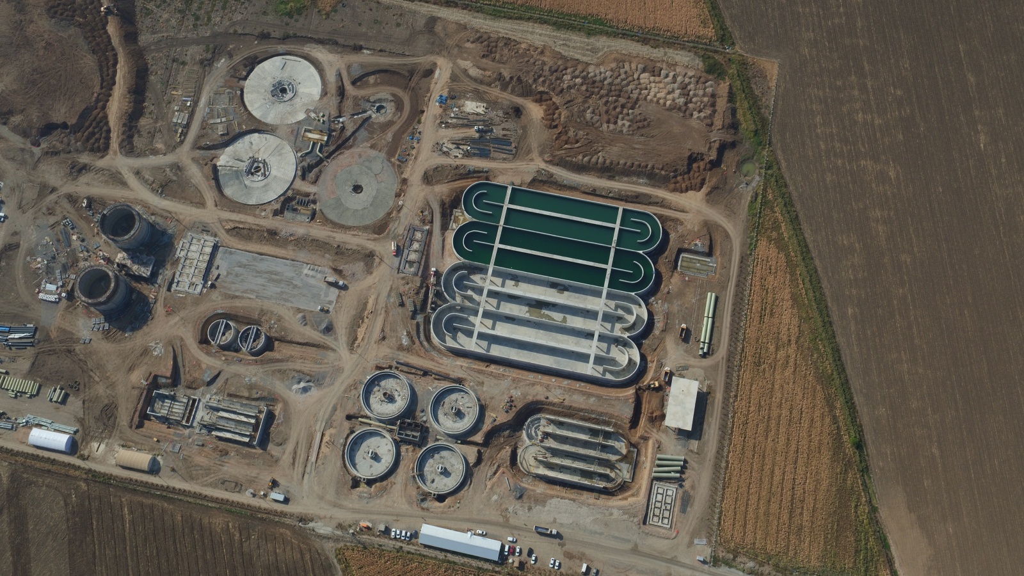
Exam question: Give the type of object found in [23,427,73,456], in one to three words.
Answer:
tent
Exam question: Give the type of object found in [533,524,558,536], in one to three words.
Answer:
vehicle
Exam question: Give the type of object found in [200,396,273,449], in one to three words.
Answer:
building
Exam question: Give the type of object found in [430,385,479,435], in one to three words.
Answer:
storage tank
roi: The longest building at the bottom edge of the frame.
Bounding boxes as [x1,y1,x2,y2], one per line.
[419,521,502,561]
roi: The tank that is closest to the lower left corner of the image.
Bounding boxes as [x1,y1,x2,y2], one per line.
[146,390,202,426]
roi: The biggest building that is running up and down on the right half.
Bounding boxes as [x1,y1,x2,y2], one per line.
[662,376,699,441]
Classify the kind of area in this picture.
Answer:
industrial area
